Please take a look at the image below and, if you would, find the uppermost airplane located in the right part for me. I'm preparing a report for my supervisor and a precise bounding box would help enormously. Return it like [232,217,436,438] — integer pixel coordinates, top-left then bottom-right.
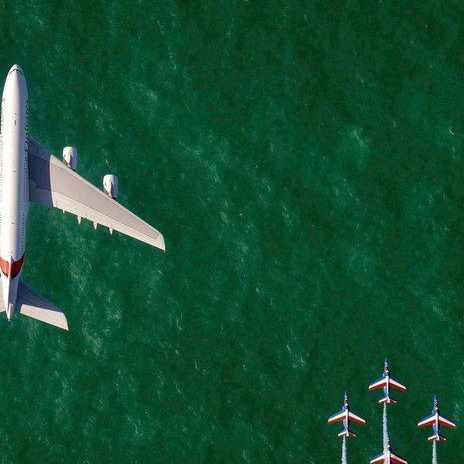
[368,356,406,403]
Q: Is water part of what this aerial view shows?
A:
Yes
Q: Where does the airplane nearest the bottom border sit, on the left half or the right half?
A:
right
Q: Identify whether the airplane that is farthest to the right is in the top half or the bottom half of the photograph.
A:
bottom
